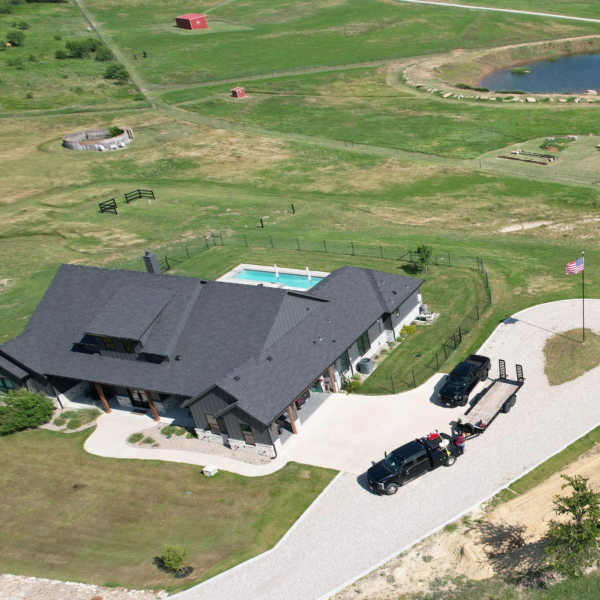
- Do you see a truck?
Yes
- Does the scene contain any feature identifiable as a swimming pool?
Yes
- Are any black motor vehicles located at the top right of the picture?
No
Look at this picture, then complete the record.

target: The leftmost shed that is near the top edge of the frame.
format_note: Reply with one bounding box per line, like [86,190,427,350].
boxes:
[174,12,204,29]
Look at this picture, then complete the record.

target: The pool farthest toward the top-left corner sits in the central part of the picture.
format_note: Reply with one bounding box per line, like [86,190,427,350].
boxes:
[217,263,329,296]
